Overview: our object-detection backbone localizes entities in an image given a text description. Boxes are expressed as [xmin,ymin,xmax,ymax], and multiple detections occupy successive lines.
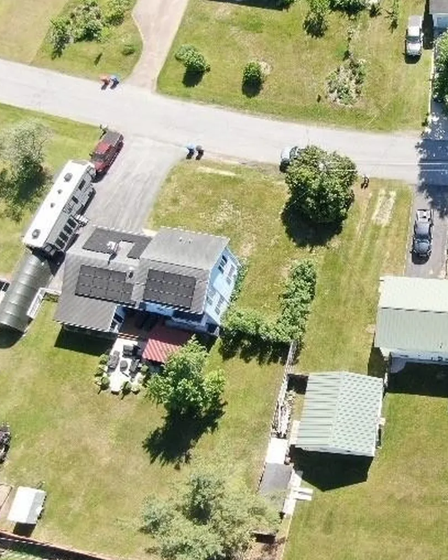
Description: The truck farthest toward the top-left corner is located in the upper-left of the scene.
[93,132,122,173]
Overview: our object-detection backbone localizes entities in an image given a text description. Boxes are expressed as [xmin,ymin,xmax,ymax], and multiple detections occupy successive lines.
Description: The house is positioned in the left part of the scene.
[56,227,241,363]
